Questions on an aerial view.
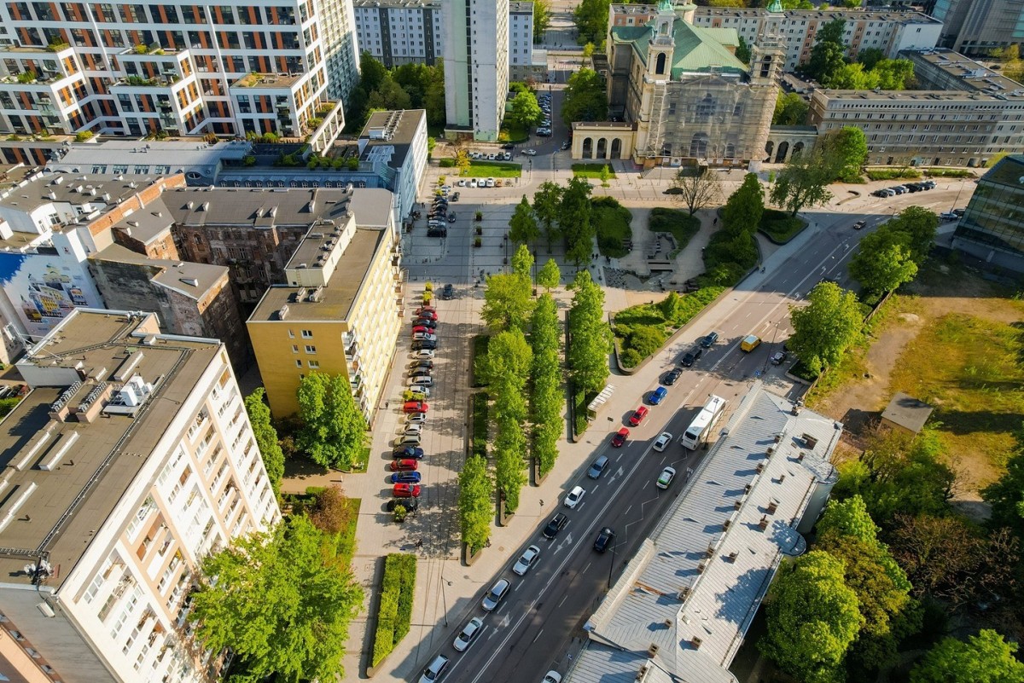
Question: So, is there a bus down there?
Yes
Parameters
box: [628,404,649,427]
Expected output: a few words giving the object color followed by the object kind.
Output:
red car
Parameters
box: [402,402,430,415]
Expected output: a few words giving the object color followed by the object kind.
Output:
red vehicle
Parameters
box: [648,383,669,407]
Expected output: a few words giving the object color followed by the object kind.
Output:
blue car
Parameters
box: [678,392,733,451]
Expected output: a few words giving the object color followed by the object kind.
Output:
white bus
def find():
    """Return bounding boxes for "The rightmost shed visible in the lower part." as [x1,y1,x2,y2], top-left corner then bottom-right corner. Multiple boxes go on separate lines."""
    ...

[876,392,933,443]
